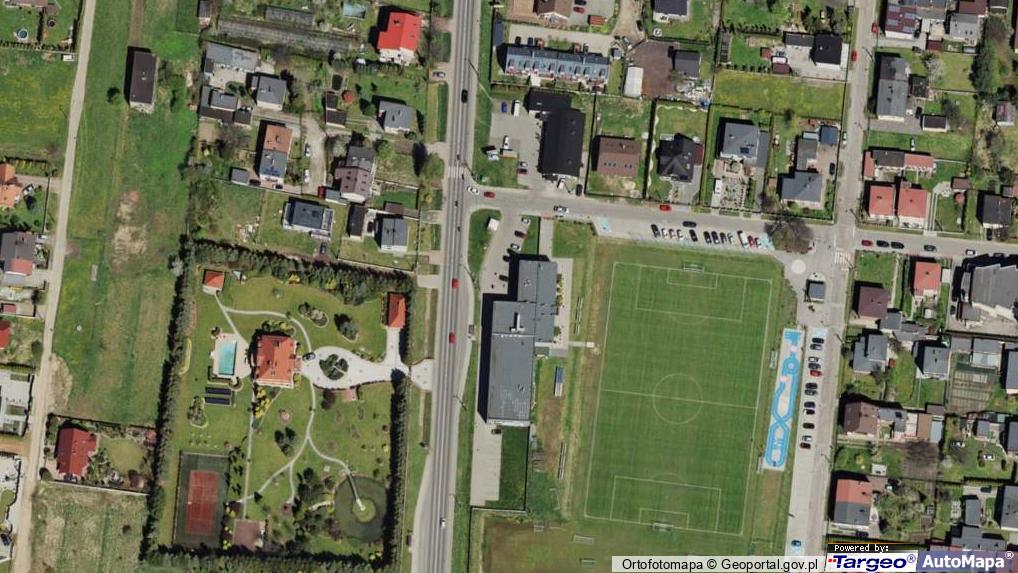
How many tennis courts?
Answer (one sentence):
The photo contains exactly 1 tennis court.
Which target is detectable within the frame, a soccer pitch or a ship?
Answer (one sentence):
I can see a soccer pitch in this picture.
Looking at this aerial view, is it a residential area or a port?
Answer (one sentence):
The picture captures a residential area.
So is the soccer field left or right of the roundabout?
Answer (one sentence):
Compared with the roundabout, the soccer field is located further to the left.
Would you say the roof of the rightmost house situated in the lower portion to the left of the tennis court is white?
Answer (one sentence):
No, from above the roof of the rightmost house situated in the lower portion to the left of the tennis court looks red.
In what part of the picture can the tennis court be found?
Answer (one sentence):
The tennis court is located in the bottom left region of the scene.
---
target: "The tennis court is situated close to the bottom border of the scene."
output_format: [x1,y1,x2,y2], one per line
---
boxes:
[175,453,229,545]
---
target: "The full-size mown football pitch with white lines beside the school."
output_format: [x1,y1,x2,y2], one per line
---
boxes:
[582,260,776,539]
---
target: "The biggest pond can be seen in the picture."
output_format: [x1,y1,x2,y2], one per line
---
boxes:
[333,475,388,542]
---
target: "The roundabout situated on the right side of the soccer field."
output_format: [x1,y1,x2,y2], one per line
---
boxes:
[783,253,813,282]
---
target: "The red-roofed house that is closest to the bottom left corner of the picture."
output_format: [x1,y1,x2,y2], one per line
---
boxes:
[56,427,99,477]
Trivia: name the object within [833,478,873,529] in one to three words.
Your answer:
house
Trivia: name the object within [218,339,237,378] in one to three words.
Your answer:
swimming pool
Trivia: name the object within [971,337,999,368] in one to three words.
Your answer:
shed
